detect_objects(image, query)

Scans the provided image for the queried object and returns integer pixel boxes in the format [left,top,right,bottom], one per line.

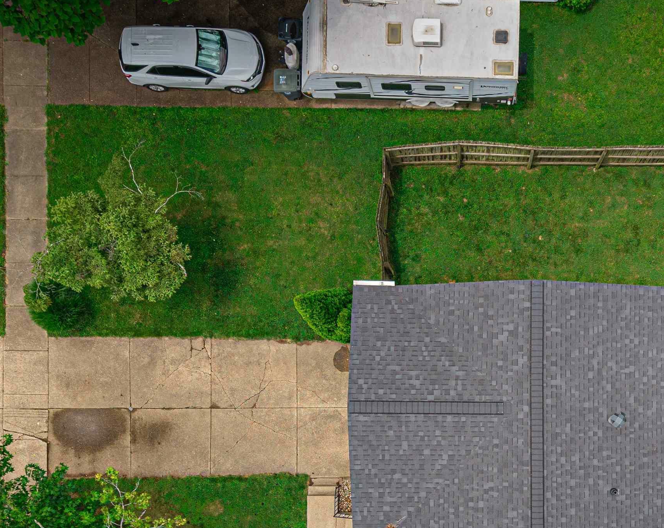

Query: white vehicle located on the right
[279,0,525,112]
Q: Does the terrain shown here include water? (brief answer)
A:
No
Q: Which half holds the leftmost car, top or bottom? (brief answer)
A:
top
